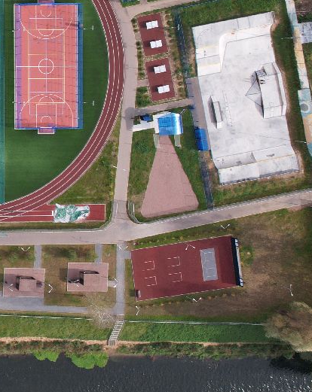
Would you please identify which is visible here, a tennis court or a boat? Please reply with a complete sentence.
There is a tennis court in the scene.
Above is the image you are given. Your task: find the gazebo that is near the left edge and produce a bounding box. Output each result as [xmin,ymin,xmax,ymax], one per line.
[14,274,37,292]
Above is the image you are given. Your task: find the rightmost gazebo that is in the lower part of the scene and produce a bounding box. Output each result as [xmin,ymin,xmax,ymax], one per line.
[79,269,101,285]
